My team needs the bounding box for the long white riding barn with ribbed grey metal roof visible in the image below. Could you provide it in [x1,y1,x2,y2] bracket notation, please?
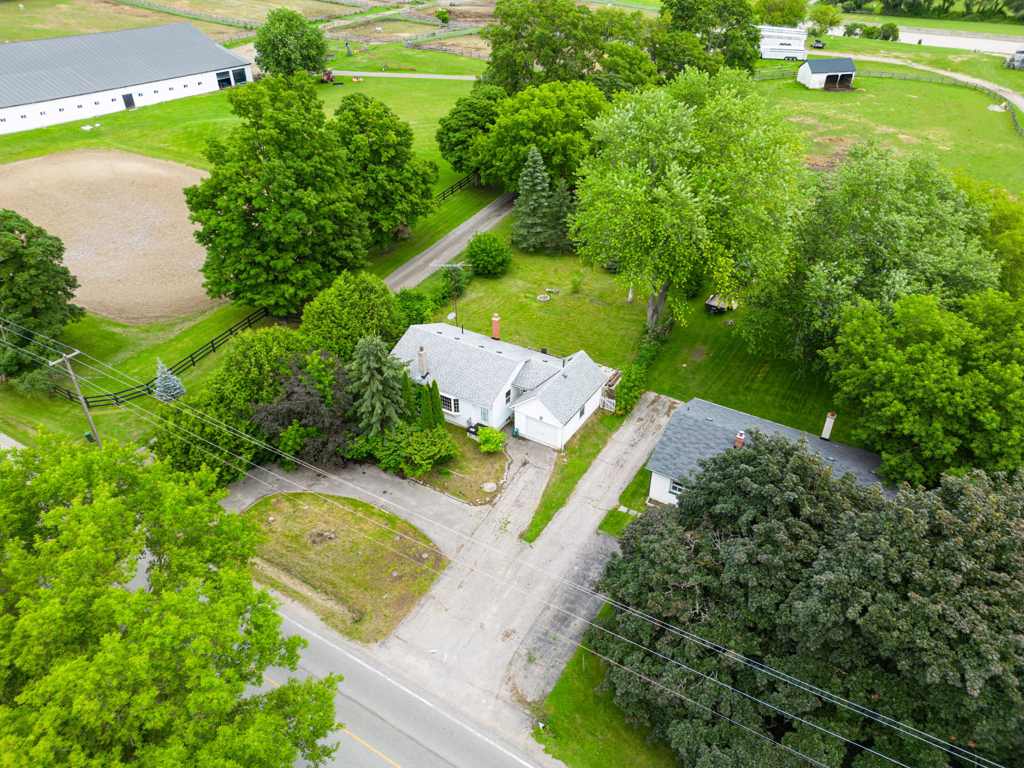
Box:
[0,20,258,133]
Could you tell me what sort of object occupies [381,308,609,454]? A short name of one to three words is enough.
house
